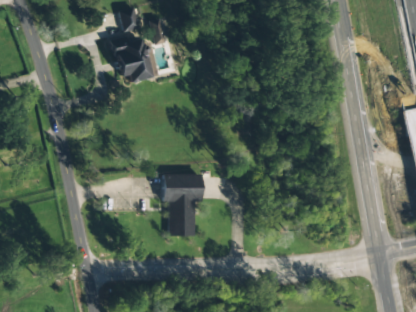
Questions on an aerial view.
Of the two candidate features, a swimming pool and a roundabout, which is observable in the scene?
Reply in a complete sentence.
Of the two, only a swimming pool appears.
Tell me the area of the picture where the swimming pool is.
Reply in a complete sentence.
The swimming pool sits in the top section of the image.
